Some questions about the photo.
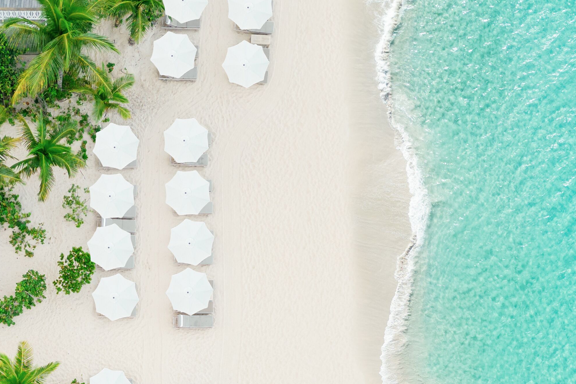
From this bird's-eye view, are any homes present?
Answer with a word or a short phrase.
No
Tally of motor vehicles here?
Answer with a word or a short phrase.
0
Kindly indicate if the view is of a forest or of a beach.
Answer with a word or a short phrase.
beach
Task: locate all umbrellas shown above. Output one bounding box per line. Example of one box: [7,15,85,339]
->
[162,270,209,318]
[217,44,266,93]
[88,177,132,222]
[161,121,206,165]
[89,277,135,324]
[147,36,195,84]
[83,226,131,272]
[162,0,206,32]
[91,125,138,173]
[163,221,212,270]
[88,368,126,384]
[224,0,269,39]
[162,174,206,219]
